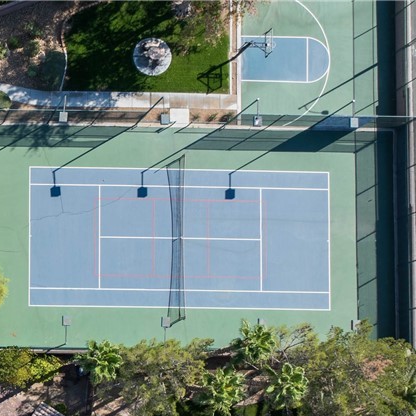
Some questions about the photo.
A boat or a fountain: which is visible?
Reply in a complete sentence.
This aerial view contains a fountain.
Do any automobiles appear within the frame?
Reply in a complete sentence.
No, I find no automobile anywhere in the image.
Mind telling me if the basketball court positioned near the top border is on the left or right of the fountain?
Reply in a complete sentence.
Looking at the photo, the basketball court positioned near the top border lies to the right of the fountain.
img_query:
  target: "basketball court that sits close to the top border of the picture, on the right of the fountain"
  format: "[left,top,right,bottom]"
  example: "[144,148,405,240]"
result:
[240,0,377,124]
